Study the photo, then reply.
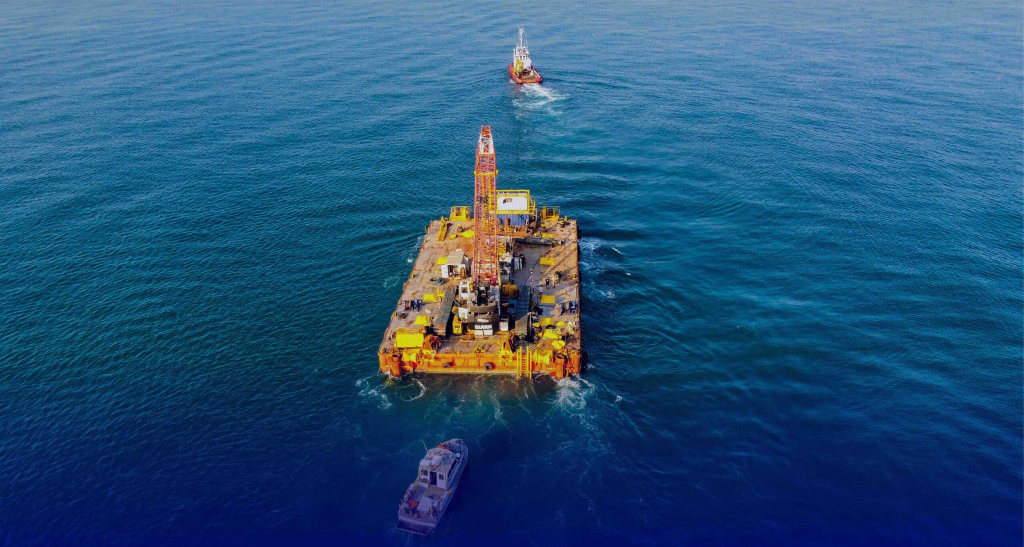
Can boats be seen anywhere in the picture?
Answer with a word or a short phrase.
Yes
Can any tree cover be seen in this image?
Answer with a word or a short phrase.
No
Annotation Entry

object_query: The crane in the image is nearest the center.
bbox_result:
[433,123,531,340]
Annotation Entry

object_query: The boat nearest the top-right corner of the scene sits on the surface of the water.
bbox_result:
[509,22,542,83]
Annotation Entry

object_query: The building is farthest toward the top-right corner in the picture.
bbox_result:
[488,184,538,218]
